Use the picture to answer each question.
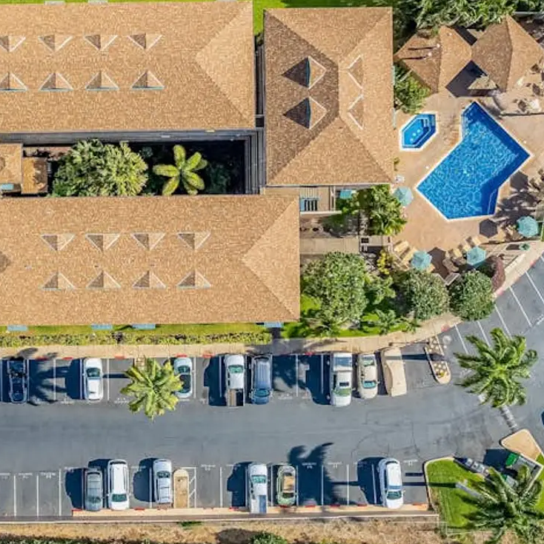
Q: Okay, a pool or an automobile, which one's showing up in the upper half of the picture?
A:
pool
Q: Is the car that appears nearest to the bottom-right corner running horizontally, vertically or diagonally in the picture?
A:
vertically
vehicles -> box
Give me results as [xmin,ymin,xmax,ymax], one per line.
[249,355,273,404]
[245,461,270,514]
[81,356,104,399]
[106,457,132,509]
[82,468,105,510]
[7,358,29,403]
[274,464,299,507]
[375,456,404,508]
[152,458,174,503]
[355,353,380,398]
[328,351,354,406]
[222,354,247,406]
[172,356,194,397]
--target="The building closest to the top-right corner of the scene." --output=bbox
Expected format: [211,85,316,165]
[470,17,544,95]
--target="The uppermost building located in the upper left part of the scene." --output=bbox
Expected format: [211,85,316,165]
[0,0,256,145]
